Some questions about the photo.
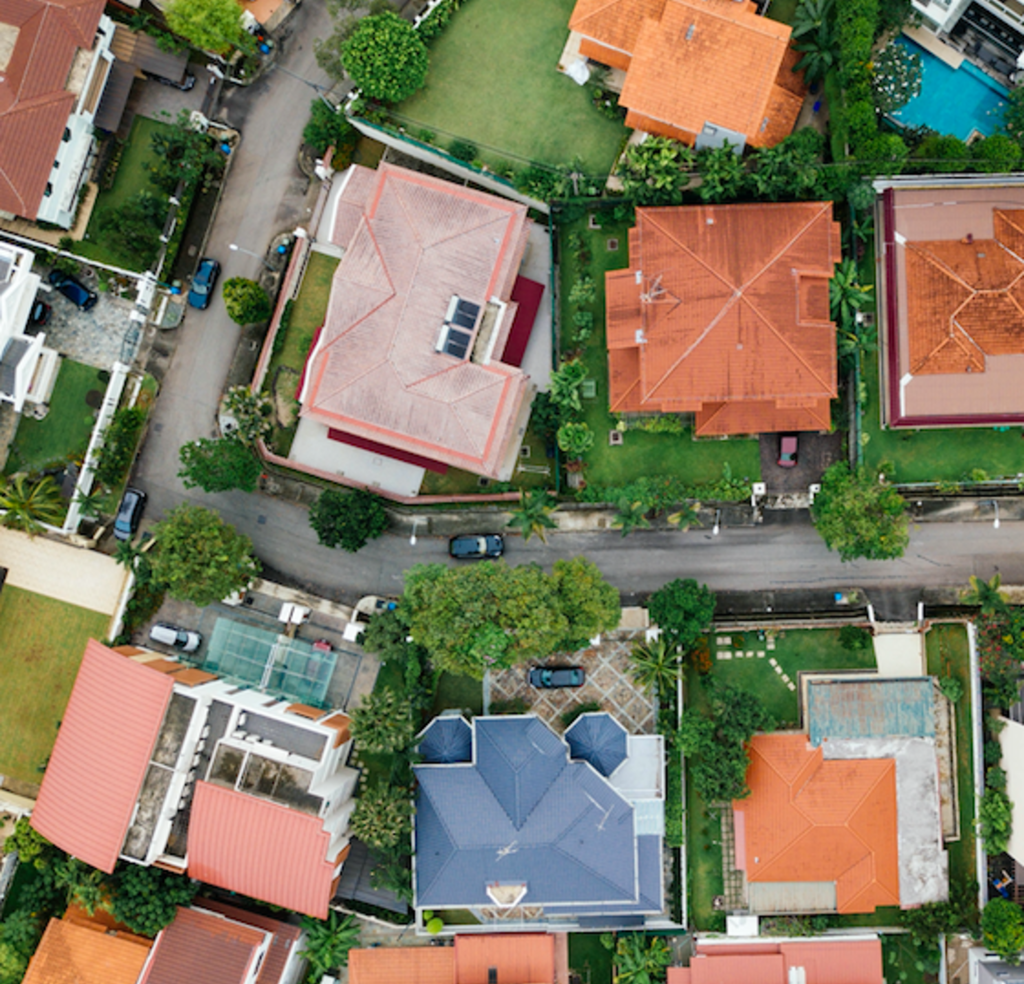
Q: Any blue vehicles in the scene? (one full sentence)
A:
Yes, the picture does show a blue vehicle.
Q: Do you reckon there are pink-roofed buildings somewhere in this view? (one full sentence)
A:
Yes, there is a pink-roofed building in the image.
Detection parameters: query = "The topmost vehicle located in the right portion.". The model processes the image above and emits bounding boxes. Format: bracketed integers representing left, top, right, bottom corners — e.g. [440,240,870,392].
[775,431,800,469]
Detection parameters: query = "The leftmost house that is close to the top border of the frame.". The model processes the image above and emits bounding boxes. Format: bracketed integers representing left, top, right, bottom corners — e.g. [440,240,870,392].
[0,0,129,232]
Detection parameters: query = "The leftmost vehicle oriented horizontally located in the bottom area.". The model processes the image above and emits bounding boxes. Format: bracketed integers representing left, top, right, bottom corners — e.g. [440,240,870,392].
[146,620,205,653]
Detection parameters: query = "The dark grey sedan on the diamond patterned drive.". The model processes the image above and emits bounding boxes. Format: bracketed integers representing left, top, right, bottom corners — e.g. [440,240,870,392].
[529,664,585,690]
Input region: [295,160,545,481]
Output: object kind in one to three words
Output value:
house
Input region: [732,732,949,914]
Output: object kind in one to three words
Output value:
house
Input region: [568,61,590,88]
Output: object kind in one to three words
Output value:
umbrella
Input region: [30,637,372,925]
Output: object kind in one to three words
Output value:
building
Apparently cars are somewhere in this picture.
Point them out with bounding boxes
[448,533,504,559]
[146,620,205,653]
[113,485,149,541]
[529,664,585,690]
[47,269,103,311]
[135,68,193,94]
[29,299,55,325]
[775,431,800,469]
[187,256,221,311]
